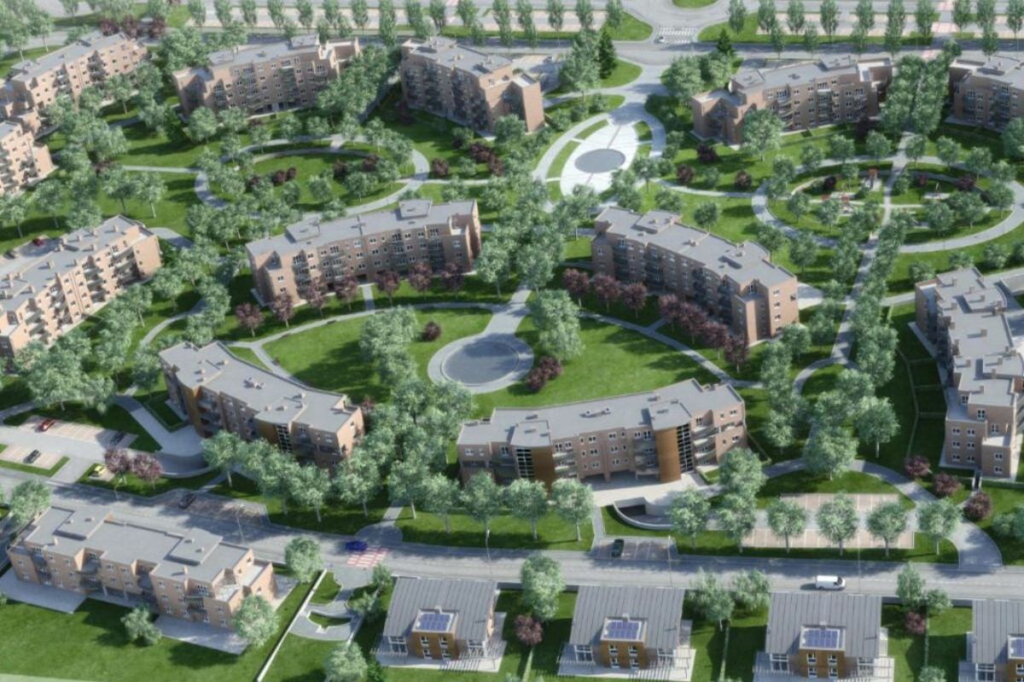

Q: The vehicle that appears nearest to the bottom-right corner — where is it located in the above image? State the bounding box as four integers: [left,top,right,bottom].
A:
[816,573,846,592]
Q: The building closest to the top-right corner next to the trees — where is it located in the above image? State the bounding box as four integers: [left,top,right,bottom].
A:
[949,57,1024,128]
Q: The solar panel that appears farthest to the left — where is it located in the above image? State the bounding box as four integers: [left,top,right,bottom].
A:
[416,605,454,629]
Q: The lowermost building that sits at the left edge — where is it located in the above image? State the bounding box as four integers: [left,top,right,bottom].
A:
[7,507,279,630]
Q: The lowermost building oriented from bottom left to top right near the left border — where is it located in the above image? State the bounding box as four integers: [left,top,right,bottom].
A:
[0,214,164,372]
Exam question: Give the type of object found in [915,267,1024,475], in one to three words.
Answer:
building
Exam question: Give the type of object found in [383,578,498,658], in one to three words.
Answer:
house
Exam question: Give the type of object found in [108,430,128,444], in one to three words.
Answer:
car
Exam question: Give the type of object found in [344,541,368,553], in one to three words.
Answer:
vehicle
